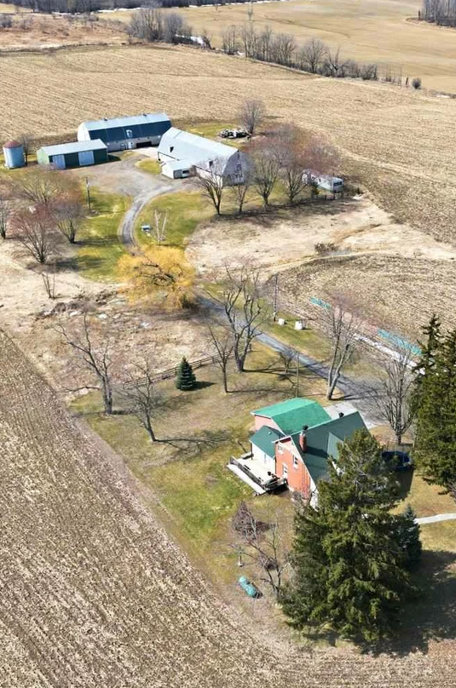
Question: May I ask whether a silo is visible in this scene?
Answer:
Yes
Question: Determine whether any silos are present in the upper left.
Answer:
Yes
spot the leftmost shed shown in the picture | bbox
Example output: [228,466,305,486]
[36,139,108,171]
